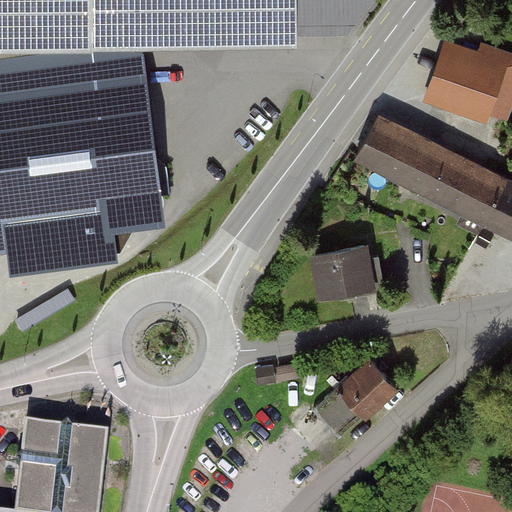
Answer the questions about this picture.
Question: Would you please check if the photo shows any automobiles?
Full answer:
Yes, an automobile can be made out from above.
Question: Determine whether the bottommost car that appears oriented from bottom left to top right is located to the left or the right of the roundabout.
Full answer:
Looking at the photo, the bottommost car that appears oriented from bottom left to top right lies to the right of the roundabout.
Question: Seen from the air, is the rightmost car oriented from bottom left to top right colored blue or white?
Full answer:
The rightmost car oriented from bottom left to top right looks white in the image.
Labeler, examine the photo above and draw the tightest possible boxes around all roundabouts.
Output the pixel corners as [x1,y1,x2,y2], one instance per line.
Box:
[0,228,258,512]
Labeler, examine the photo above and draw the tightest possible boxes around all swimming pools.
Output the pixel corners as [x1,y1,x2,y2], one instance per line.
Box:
[368,172,386,190]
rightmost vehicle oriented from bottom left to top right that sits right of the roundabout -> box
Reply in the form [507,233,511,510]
[384,390,405,409]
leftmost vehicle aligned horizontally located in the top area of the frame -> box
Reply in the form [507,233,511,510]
[150,70,182,84]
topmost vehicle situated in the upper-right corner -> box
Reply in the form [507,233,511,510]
[415,54,436,69]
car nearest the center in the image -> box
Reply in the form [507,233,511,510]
[206,160,225,179]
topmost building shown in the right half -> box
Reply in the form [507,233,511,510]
[298,0,370,38]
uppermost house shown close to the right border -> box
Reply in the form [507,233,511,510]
[423,39,512,124]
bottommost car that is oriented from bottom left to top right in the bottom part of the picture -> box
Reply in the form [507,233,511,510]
[293,464,314,484]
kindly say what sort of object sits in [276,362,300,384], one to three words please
shed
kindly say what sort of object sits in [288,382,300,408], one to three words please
vehicle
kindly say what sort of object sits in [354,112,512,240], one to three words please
house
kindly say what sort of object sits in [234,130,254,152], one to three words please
car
